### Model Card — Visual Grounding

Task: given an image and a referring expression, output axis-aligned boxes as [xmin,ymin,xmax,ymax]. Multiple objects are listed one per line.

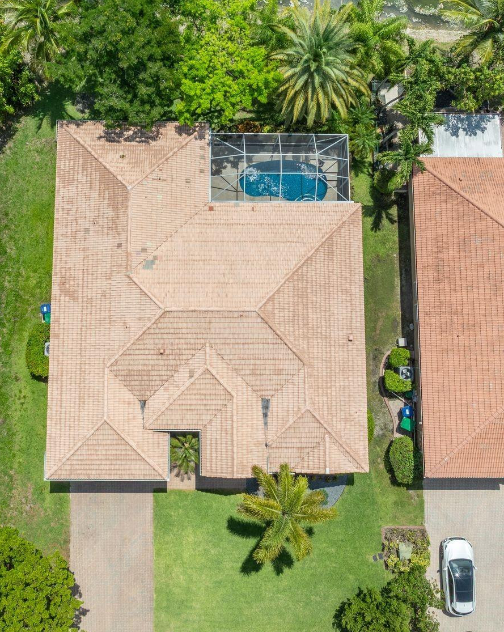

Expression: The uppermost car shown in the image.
[436,534,477,620]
